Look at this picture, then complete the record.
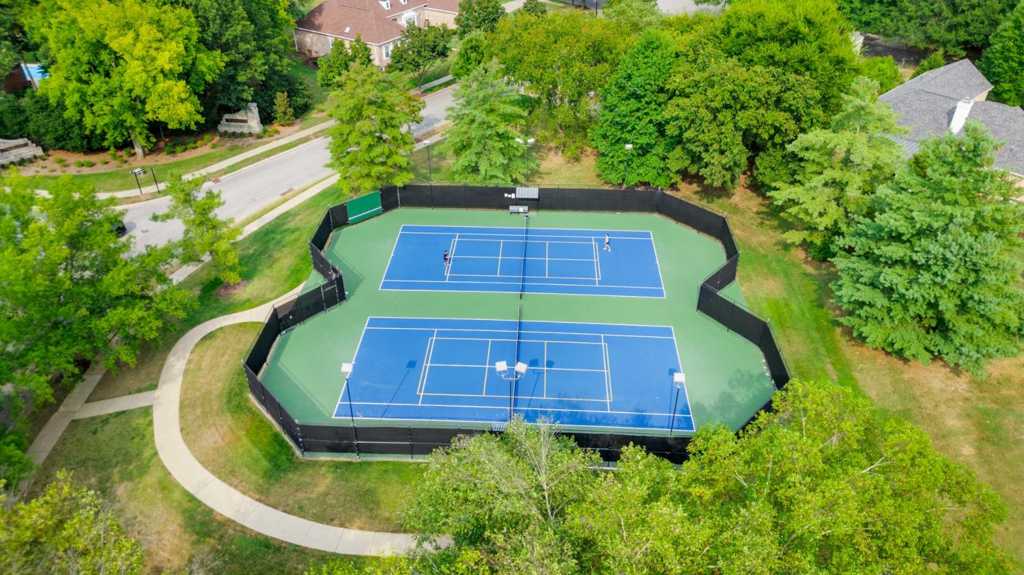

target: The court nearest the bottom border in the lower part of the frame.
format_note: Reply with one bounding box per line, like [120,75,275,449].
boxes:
[333,316,696,431]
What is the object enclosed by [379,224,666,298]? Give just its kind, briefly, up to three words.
tennis court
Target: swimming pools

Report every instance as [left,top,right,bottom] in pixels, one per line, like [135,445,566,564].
[16,63,42,82]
